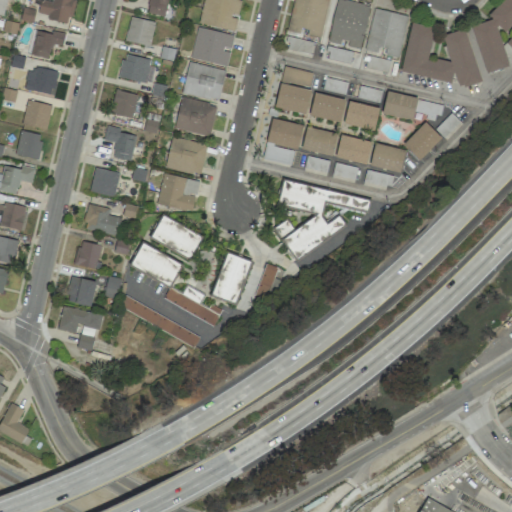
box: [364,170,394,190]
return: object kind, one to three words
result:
building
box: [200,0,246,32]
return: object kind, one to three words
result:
house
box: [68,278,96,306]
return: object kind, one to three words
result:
house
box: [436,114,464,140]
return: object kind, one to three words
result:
building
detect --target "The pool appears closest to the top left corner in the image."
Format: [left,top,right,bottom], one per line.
[20,26,33,44]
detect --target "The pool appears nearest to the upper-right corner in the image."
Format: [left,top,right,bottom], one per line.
[382,124,404,140]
